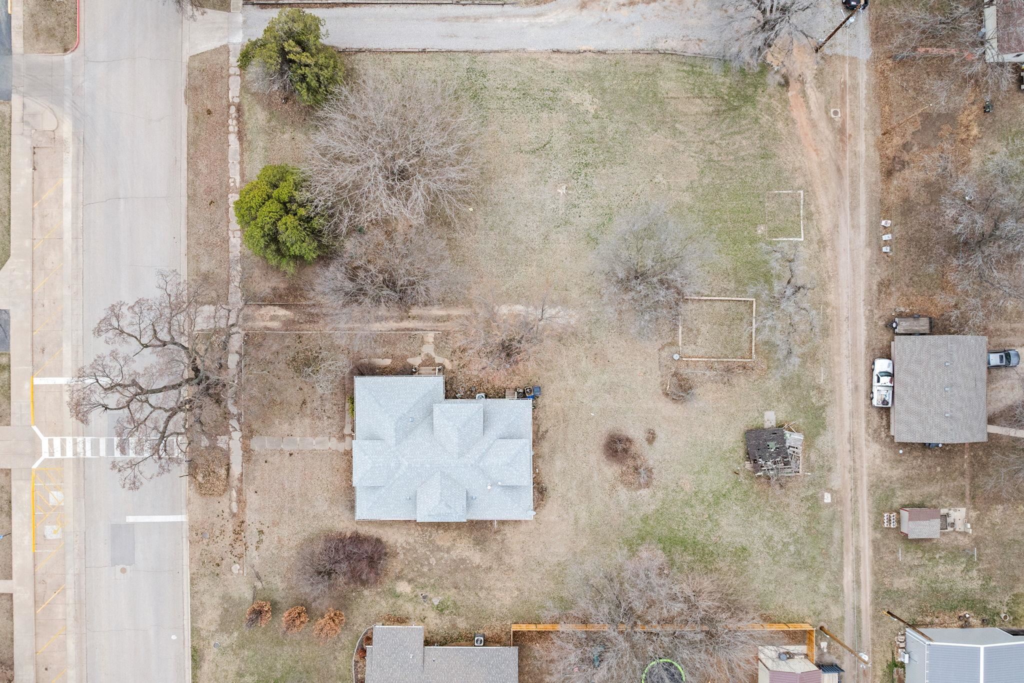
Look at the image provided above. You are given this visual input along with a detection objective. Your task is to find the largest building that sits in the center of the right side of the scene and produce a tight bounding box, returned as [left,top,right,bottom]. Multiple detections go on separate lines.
[890,336,988,444]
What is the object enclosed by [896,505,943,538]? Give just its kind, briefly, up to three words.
shed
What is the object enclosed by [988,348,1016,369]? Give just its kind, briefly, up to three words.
car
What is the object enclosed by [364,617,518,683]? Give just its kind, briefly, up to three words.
house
